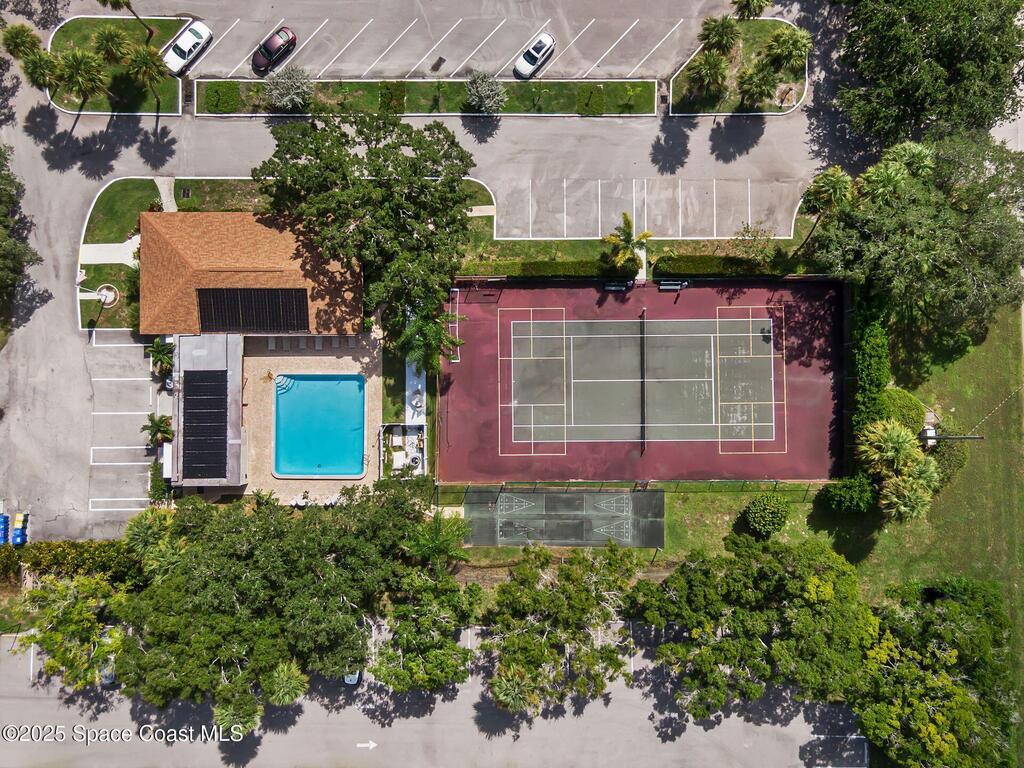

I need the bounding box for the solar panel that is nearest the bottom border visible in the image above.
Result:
[183,369,227,479]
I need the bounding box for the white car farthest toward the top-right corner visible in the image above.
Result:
[514,31,555,80]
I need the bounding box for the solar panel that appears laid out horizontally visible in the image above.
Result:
[198,289,315,335]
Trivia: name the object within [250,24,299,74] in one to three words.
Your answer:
car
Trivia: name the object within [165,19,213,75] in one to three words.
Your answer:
car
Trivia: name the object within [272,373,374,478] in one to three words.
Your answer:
swimming pool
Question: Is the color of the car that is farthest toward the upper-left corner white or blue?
white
